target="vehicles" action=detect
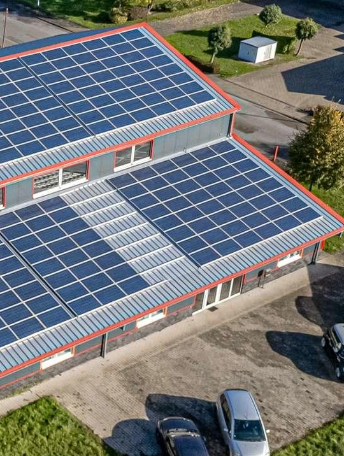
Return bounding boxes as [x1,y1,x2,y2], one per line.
[318,321,344,380]
[153,412,205,456]
[204,383,269,456]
